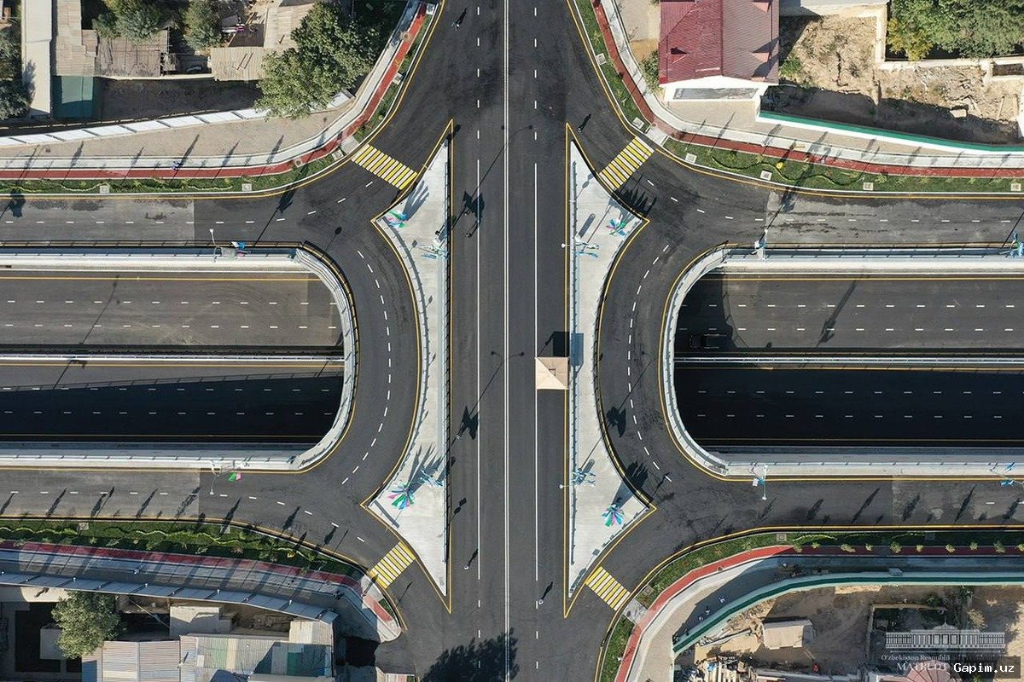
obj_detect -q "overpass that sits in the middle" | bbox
[300,246,726,475]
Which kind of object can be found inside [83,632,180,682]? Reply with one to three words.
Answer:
building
